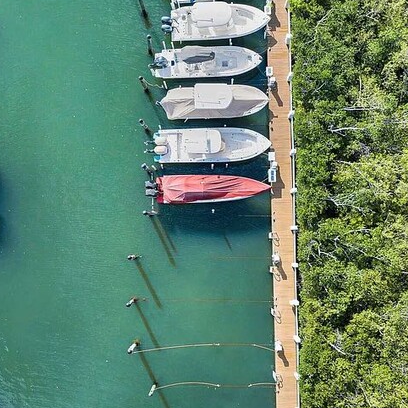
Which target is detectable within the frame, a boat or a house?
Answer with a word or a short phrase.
boat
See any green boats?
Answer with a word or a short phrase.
No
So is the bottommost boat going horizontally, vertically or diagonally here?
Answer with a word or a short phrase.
horizontally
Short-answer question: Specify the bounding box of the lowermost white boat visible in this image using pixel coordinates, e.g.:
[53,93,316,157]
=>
[144,123,272,164]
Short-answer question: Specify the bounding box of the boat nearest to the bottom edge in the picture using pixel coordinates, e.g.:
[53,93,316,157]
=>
[146,174,271,204]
